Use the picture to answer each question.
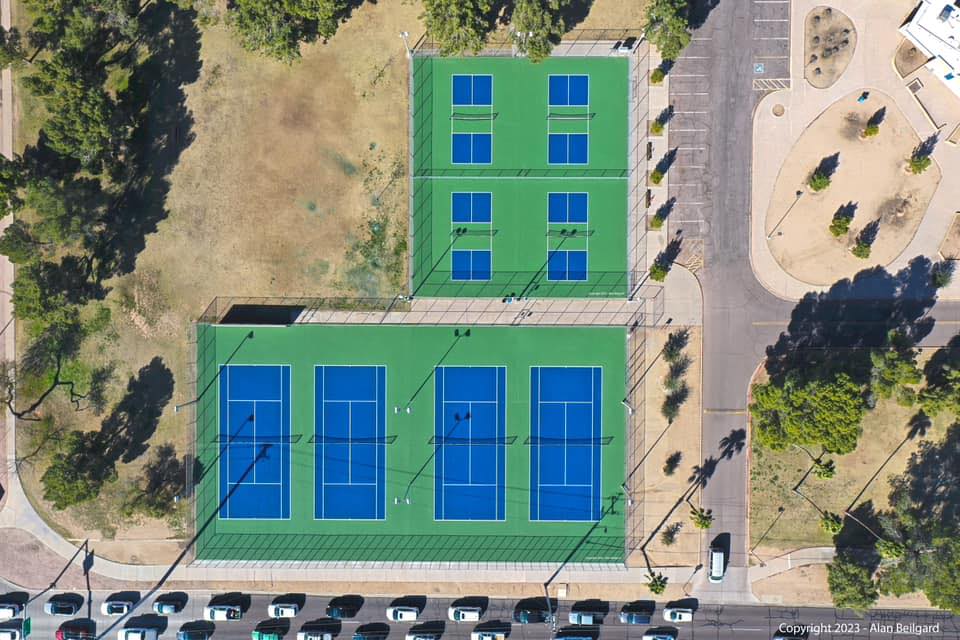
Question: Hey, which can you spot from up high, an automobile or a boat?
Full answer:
Of the two, only an automobile appears.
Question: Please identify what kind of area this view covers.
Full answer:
The area seen from above is a sports ground.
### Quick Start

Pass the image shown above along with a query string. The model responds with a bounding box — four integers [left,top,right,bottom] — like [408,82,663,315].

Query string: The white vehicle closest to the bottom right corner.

[706,543,725,579]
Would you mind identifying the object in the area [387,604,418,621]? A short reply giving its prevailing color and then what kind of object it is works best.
white car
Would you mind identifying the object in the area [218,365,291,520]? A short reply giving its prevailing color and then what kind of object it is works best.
blue tennis court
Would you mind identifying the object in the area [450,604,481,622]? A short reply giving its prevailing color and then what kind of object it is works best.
white car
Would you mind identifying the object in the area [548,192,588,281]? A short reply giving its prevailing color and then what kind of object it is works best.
blue sports court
